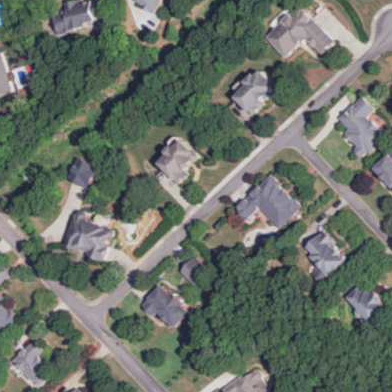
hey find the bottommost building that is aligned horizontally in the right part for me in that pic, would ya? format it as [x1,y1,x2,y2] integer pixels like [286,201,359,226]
[219,370,270,392]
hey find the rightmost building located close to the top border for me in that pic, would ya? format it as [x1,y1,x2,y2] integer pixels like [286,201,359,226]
[265,8,336,56]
